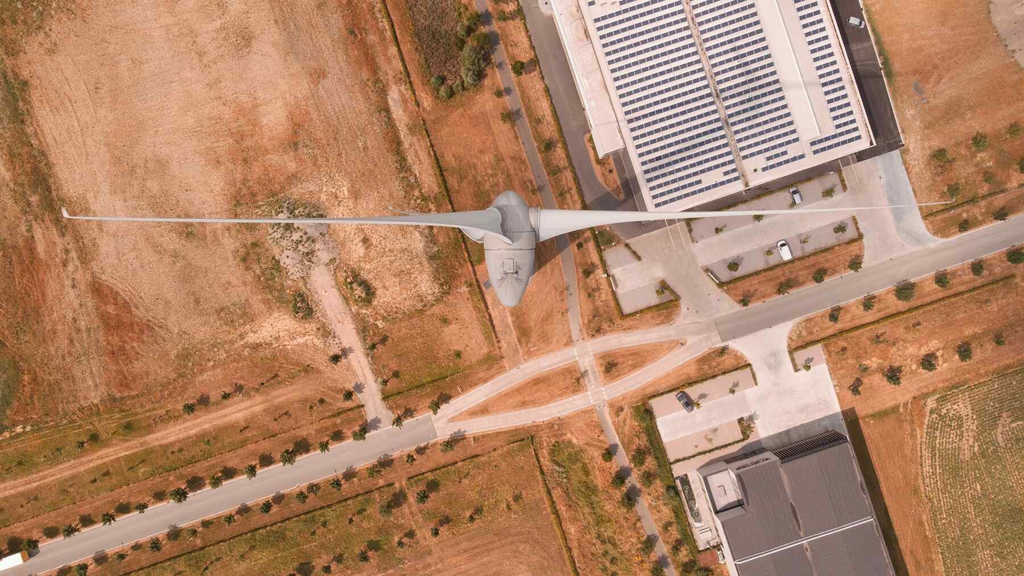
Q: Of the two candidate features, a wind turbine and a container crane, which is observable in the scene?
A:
wind turbine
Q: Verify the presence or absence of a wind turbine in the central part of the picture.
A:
Yes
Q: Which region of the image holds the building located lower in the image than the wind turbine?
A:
bottom right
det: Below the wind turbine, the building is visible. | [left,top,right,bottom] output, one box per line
[696,431,893,576]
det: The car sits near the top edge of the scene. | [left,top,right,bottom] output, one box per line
[845,15,866,30]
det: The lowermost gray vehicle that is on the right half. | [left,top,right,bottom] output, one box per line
[676,390,694,413]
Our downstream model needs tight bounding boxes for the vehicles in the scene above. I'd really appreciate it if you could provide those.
[845,15,866,30]
[676,390,694,413]
[777,239,793,262]
[788,185,803,207]
[0,548,40,572]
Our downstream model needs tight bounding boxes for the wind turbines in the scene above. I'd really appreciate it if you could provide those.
[63,191,948,307]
